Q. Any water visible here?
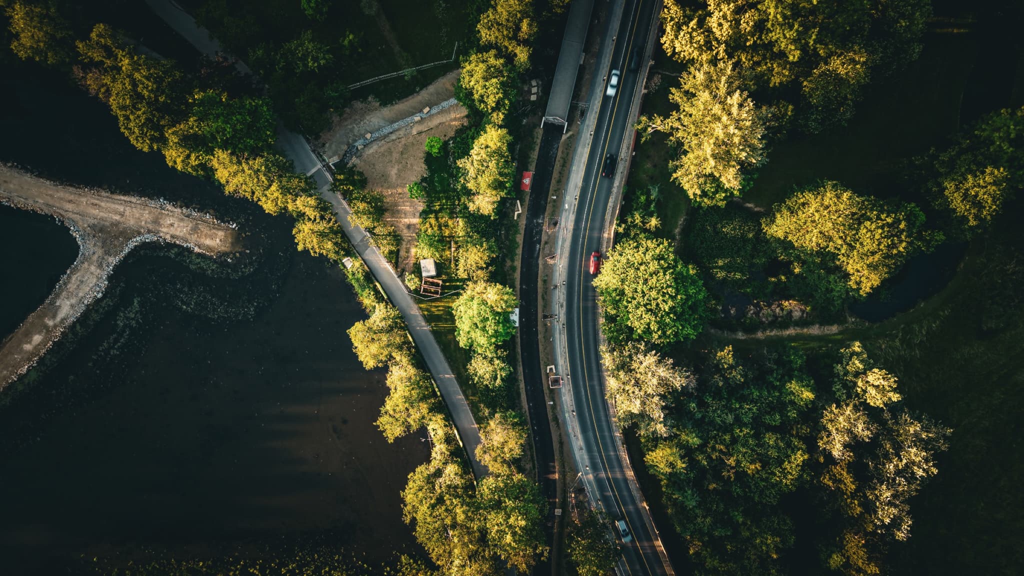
Yes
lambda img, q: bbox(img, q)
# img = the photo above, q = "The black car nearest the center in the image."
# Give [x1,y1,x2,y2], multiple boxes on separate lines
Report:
[603,153,616,177]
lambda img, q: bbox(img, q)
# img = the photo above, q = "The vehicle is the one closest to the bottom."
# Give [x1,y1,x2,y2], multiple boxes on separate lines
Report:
[616,519,632,544]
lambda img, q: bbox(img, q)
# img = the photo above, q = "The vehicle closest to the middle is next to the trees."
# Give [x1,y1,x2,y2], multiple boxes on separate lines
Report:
[589,251,601,275]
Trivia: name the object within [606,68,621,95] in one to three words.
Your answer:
car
